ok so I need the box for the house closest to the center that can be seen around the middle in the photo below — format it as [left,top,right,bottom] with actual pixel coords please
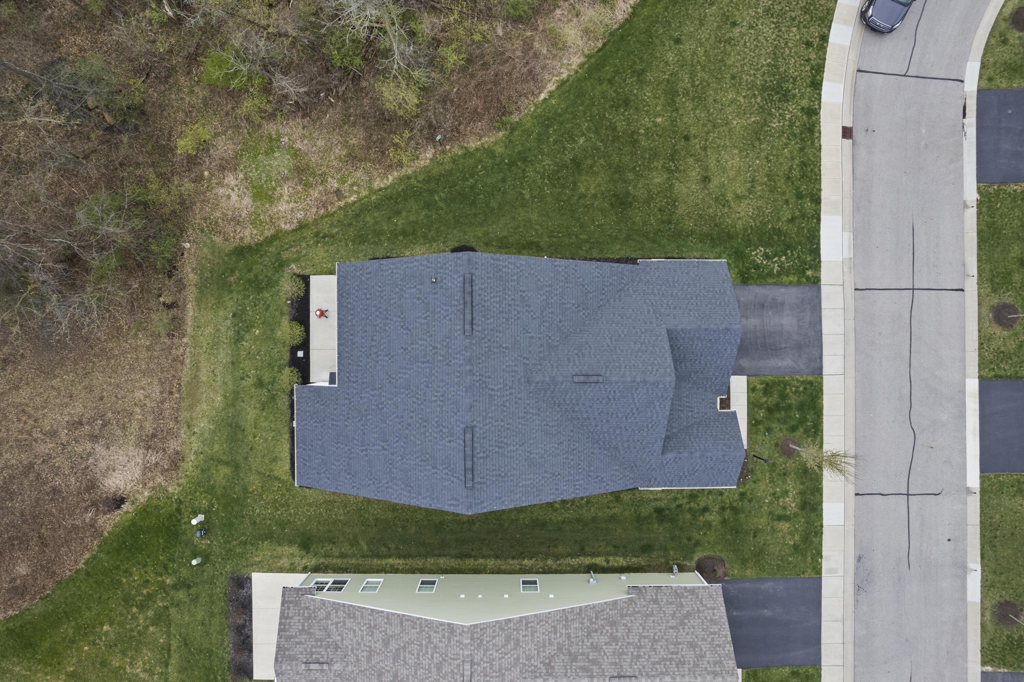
[293,251,745,514]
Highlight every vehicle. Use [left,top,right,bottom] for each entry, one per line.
[862,0,916,35]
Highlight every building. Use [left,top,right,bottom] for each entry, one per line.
[272,571,739,682]
[293,251,745,514]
